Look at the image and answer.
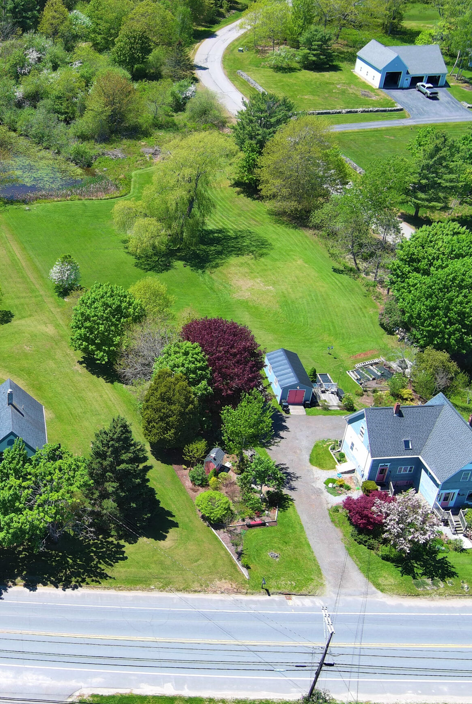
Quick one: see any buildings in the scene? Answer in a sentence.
Yes, I can see a building in this picture.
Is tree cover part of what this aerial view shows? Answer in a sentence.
Yes, some tree cover is visible.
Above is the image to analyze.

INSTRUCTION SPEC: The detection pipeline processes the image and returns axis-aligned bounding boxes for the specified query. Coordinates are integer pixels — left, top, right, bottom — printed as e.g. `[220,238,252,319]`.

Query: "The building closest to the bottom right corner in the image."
[342,384,472,527]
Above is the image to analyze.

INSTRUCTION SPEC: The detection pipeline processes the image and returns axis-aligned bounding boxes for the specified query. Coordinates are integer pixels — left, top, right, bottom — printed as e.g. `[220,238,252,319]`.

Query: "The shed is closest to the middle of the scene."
[266,347,315,414]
